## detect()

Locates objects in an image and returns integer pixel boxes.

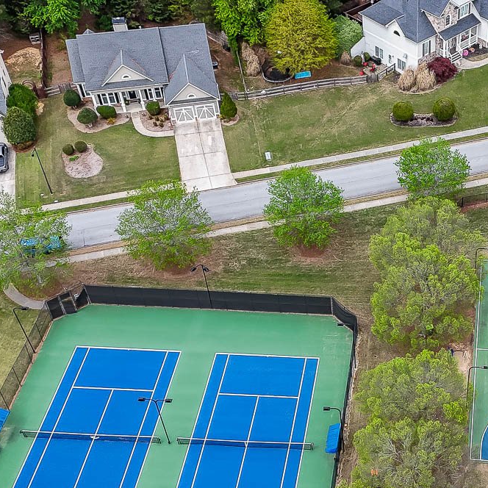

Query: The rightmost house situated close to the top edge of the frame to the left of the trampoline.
[61,13,222,125]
